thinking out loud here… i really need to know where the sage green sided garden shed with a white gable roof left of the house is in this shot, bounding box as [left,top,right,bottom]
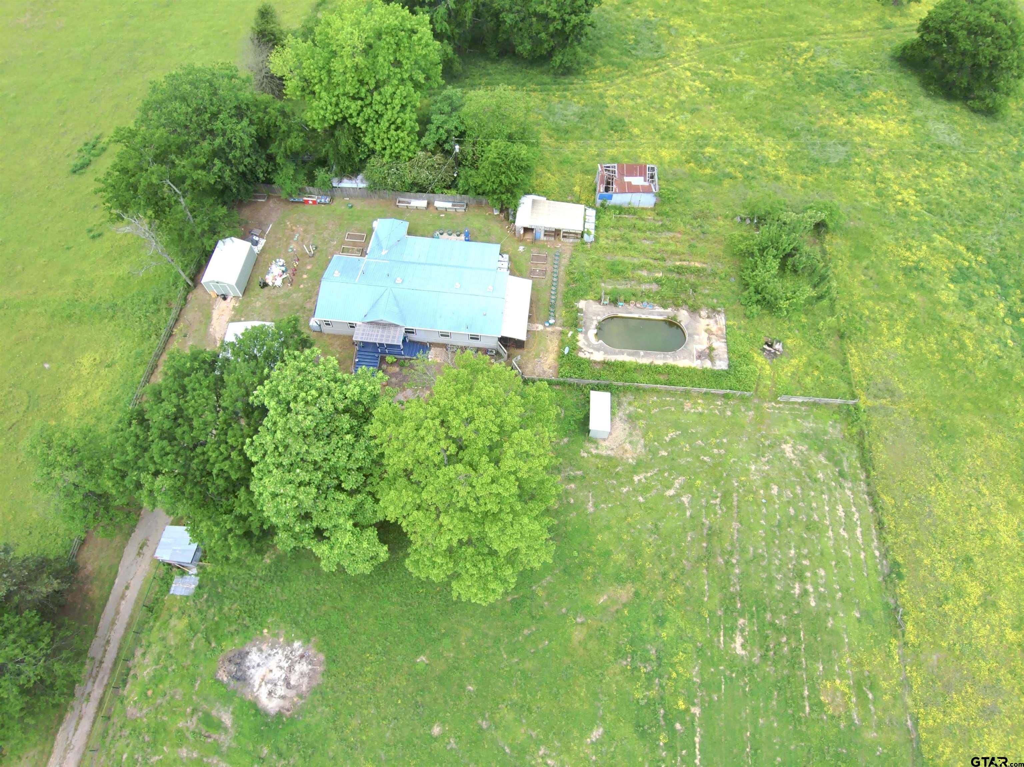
[201,236,255,296]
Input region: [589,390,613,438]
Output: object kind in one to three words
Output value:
shed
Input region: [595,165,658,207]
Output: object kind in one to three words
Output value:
barn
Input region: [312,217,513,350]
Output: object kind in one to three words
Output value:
house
